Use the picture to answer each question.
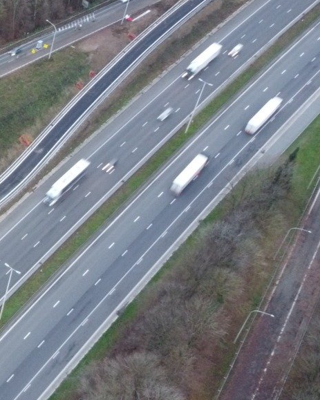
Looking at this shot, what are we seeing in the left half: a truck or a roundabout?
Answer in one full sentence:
There is a truck in the left half.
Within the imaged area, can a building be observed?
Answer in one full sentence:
No, the scene contains no building.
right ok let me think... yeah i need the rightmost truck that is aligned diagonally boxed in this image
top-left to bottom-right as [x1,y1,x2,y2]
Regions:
[246,99,281,134]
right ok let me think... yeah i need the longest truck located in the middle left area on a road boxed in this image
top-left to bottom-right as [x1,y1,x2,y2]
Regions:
[47,160,89,203]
